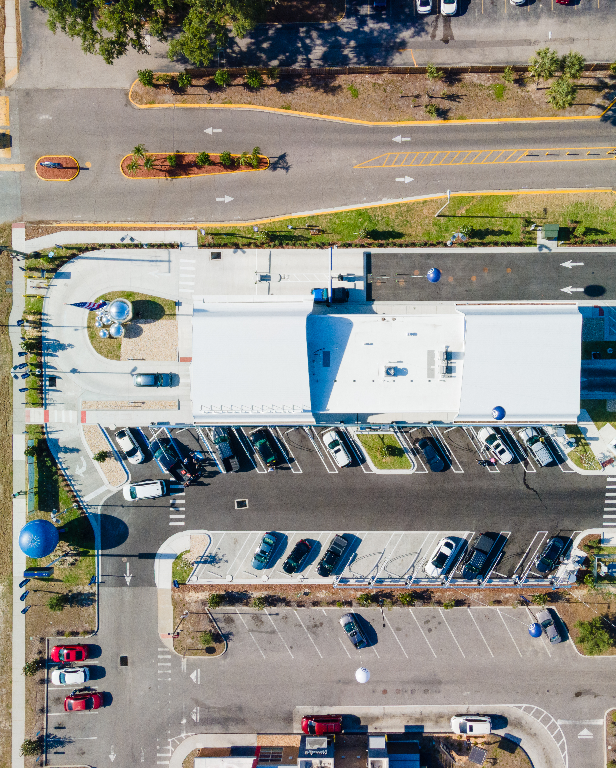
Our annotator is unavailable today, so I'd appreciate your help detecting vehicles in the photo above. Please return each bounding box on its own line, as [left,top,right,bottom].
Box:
[414,0,431,15]
[535,606,563,648]
[460,530,497,581]
[122,480,167,503]
[450,714,492,737]
[251,428,280,469]
[283,537,310,576]
[211,426,241,476]
[426,535,456,576]
[52,666,91,686]
[324,430,352,471]
[250,530,278,572]
[535,535,564,575]
[440,0,458,17]
[114,425,146,465]
[134,371,175,390]
[338,610,369,652]
[149,436,193,486]
[64,691,104,712]
[416,434,444,474]
[315,532,349,578]
[51,643,91,664]
[521,426,553,469]
[479,426,513,468]
[302,715,342,738]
